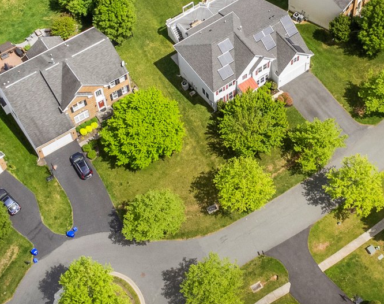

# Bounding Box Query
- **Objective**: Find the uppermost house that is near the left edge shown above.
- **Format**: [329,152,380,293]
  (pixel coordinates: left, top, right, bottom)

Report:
[0,27,133,158]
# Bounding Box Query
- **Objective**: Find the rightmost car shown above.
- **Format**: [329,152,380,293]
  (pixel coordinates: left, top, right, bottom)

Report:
[71,150,95,183]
